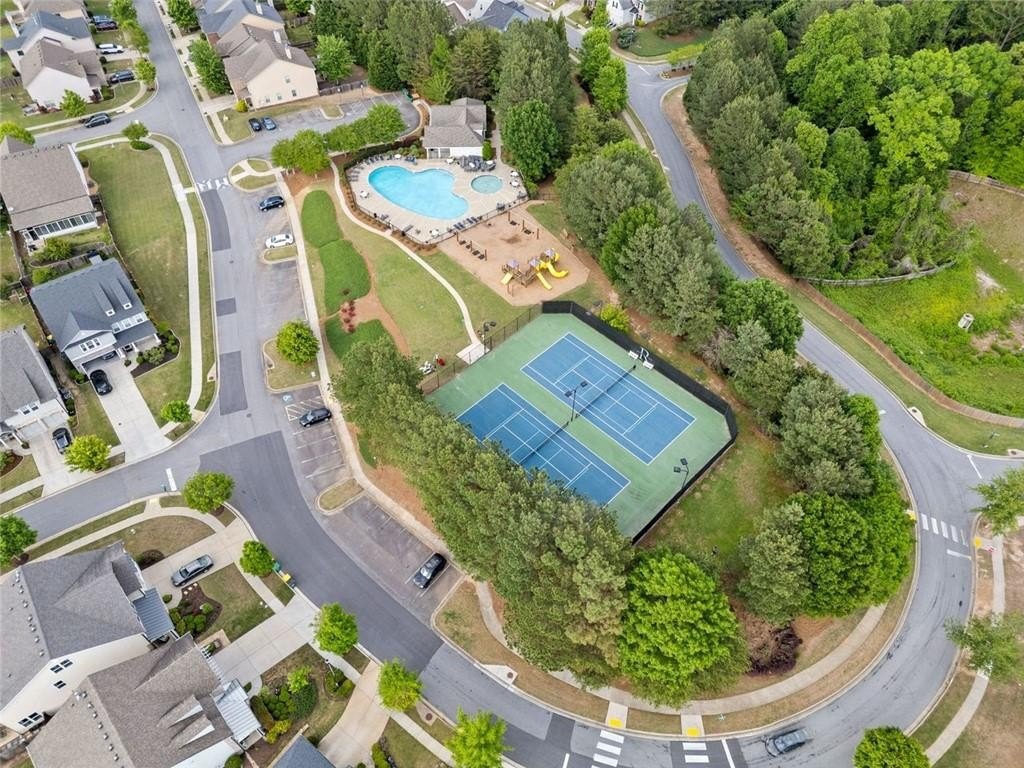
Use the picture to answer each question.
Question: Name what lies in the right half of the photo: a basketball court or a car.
car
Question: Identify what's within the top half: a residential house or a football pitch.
residential house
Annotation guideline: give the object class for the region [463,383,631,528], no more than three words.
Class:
tennis court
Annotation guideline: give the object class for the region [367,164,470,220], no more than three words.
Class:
swimming pool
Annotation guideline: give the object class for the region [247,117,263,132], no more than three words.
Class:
car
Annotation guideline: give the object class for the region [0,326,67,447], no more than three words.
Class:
house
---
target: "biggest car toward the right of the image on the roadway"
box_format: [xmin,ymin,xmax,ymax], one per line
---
[761,722,817,758]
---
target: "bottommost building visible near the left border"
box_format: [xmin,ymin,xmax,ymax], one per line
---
[19,636,267,768]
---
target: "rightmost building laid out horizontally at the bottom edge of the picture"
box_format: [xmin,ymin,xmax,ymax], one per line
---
[248,729,335,768]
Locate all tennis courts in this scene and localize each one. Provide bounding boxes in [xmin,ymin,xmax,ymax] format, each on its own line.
[463,383,631,528]
[521,333,695,464]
